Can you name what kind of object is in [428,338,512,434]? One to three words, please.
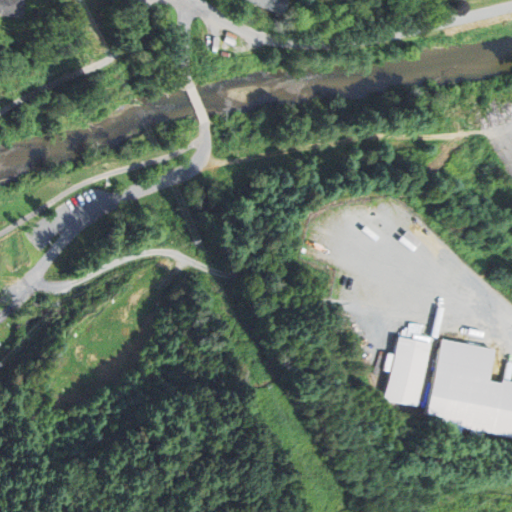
building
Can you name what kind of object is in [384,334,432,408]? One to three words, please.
shed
